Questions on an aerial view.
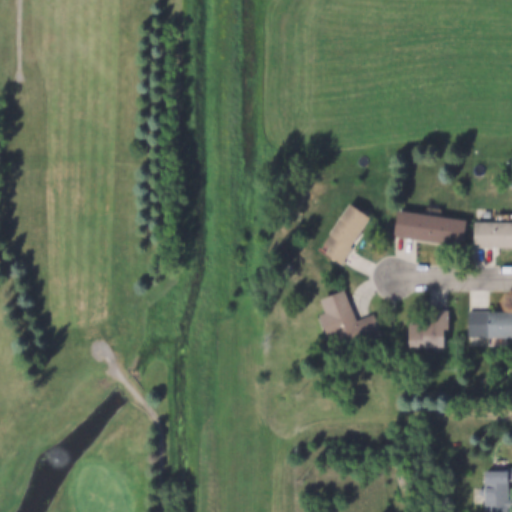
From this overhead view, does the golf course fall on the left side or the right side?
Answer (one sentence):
The golf course sits on the left side.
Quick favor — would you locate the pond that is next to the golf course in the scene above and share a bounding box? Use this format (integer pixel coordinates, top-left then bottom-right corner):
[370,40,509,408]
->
[18,390,124,512]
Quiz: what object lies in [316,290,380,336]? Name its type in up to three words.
house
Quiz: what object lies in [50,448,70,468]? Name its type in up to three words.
fountain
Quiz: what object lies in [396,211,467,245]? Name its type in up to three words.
house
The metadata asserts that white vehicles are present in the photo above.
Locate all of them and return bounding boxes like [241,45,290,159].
[406,240,412,253]
[416,266,429,272]
[503,267,512,274]
[416,286,426,291]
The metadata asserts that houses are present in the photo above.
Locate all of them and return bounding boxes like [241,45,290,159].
[474,222,512,248]
[396,211,467,245]
[469,312,512,339]
[320,205,370,264]
[316,290,380,336]
[485,471,512,512]
[409,310,450,348]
